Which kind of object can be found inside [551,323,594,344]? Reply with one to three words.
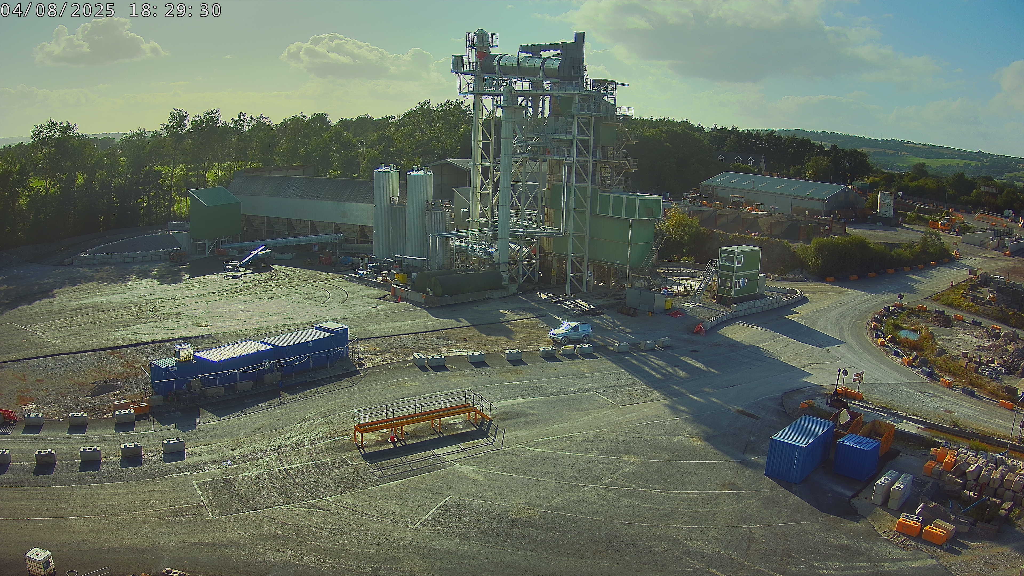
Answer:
car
